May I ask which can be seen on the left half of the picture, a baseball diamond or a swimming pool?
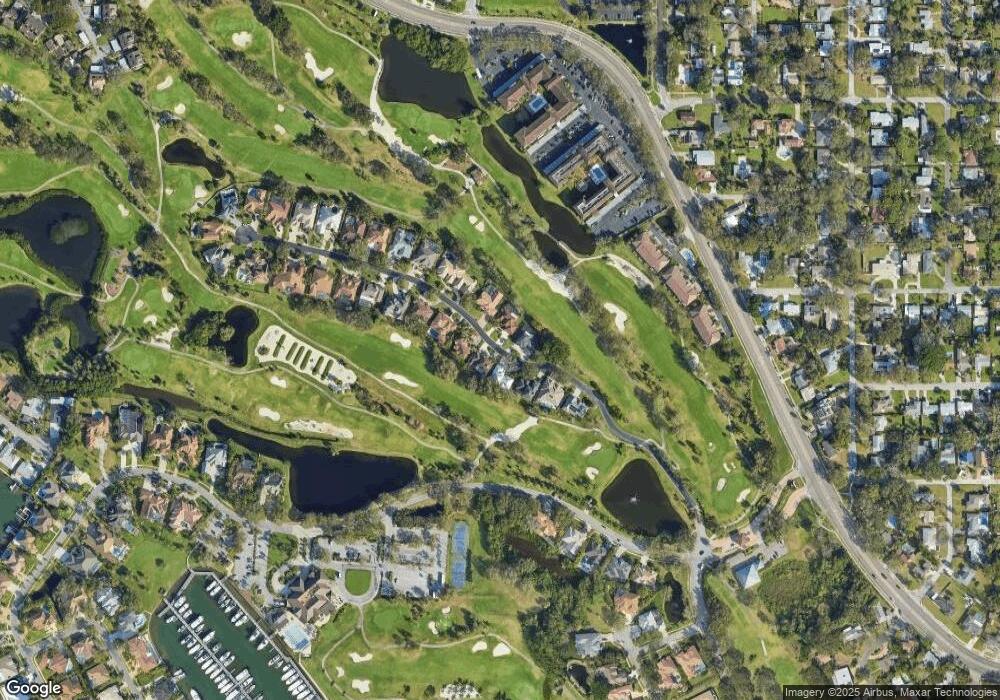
swimming pool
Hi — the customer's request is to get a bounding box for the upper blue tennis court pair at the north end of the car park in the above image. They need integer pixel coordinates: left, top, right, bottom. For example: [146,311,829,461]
[453,521,470,556]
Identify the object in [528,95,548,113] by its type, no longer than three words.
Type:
swimming pool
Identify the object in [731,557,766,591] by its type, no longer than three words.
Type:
building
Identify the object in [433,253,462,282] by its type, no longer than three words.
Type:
house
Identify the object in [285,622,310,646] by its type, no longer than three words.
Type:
swimming pool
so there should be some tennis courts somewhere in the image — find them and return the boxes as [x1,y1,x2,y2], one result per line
[452,561,467,589]
[453,521,470,556]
